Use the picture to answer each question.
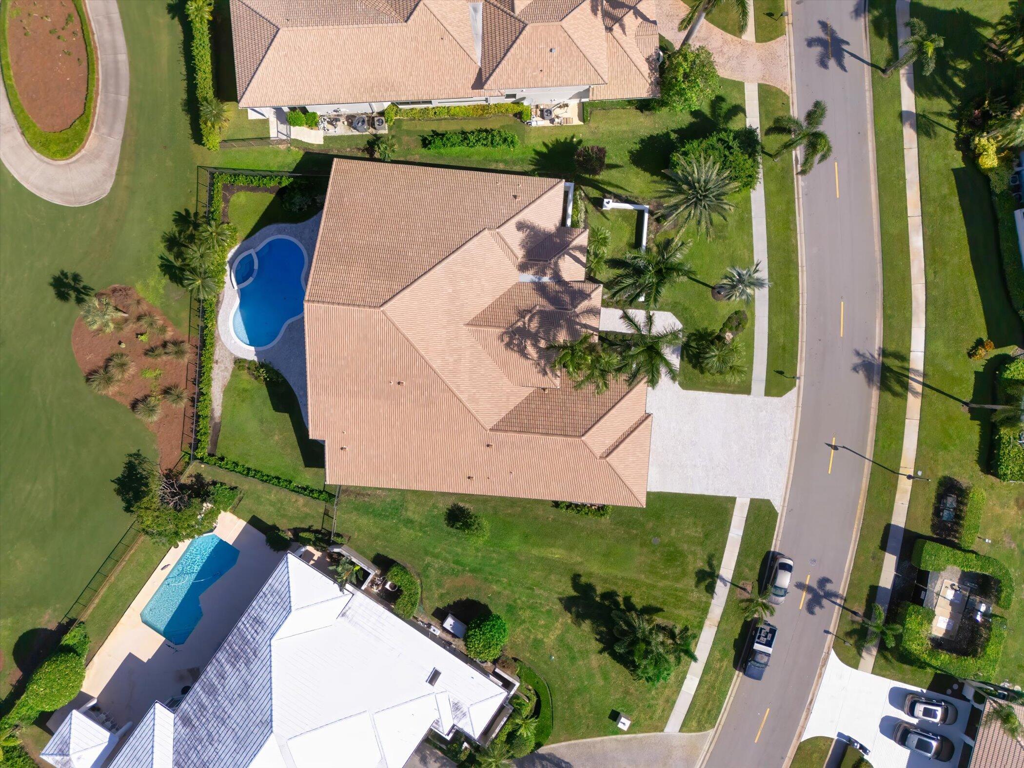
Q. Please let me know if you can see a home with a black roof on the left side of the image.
No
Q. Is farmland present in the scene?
No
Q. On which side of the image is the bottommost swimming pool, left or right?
left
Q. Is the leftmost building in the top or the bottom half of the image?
bottom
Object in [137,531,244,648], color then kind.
blue swimming pool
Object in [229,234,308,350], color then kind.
blue swimming pool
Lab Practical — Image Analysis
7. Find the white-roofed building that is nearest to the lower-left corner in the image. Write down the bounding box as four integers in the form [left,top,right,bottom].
[39,695,133,768]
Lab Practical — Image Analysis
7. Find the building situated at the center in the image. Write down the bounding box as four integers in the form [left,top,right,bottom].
[302,157,653,509]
